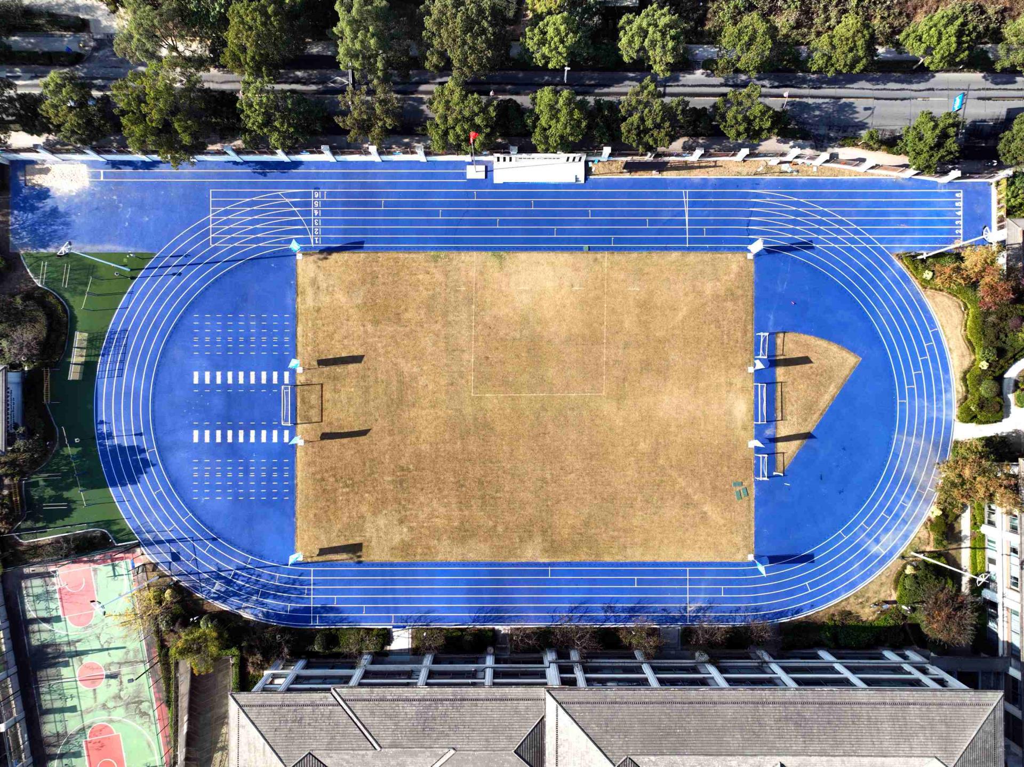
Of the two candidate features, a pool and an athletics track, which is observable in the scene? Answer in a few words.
athletics track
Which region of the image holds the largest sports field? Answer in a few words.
center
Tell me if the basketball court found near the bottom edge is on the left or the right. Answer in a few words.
left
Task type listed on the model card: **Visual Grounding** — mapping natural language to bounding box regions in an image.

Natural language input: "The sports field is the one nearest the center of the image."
[296,251,755,562]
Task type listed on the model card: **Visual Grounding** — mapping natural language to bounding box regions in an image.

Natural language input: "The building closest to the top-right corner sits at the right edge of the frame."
[995,220,1024,248]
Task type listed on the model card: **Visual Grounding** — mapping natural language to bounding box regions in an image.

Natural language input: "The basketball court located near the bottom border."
[0,544,182,767]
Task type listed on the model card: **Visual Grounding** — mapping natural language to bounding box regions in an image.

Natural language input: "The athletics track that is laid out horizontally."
[9,160,999,630]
